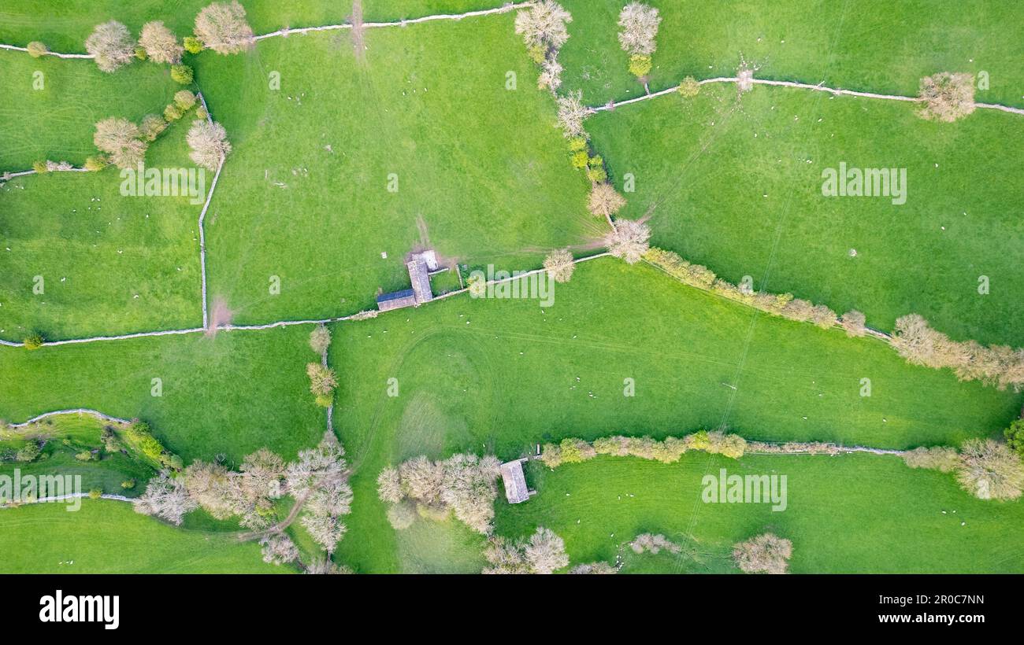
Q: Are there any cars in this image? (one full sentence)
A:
No, there's no car here.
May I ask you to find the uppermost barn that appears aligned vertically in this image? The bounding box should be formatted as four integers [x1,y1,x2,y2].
[408,260,434,303]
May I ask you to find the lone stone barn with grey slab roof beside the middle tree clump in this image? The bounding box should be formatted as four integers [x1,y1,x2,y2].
[499,459,529,503]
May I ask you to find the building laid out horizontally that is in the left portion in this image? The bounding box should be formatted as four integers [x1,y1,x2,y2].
[377,289,415,311]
